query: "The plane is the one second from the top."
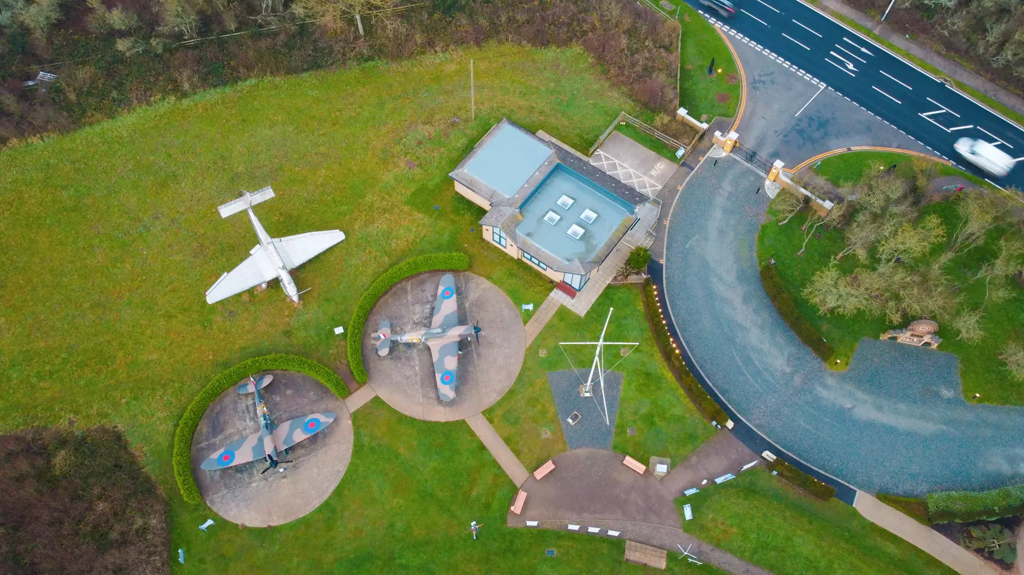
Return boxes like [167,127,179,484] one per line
[371,273,481,400]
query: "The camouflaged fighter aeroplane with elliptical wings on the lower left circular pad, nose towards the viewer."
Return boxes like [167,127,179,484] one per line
[200,374,335,475]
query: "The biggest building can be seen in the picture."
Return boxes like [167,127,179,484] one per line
[446,118,651,290]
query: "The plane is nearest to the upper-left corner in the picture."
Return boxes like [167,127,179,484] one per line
[207,186,347,306]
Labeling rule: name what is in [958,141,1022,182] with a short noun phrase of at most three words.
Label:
van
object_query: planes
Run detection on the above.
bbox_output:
[207,186,347,306]
[371,273,481,400]
[200,374,335,475]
